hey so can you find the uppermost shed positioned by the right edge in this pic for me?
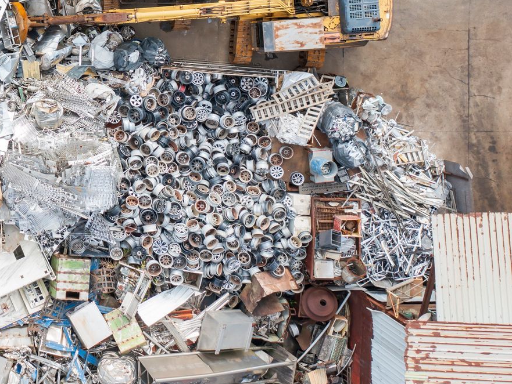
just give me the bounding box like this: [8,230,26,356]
[431,212,512,324]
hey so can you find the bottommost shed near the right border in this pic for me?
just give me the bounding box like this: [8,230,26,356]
[404,321,512,384]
